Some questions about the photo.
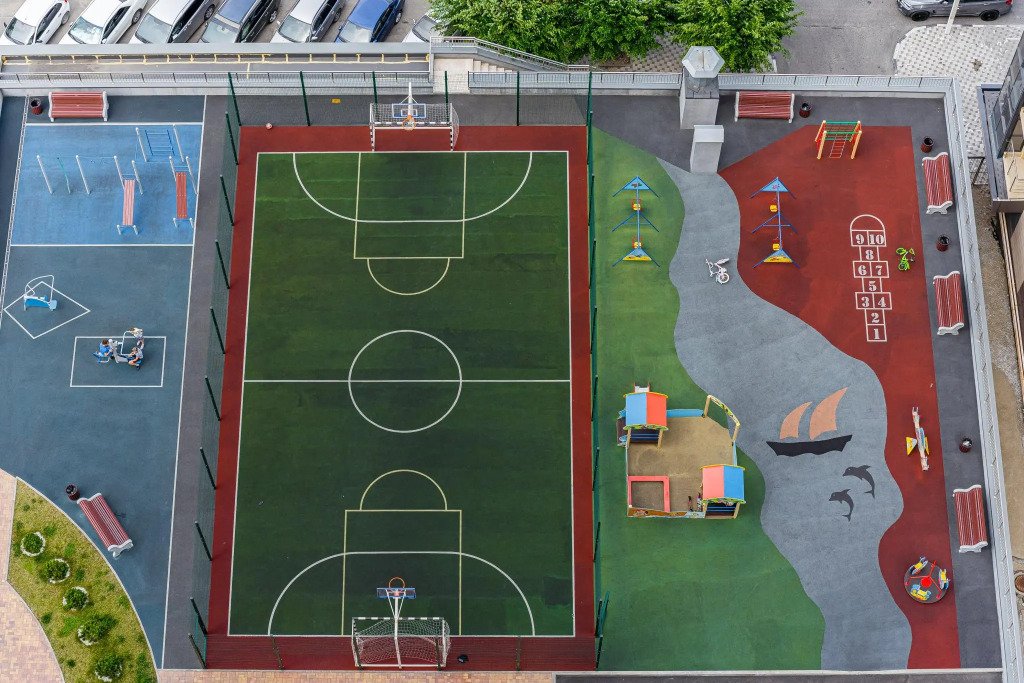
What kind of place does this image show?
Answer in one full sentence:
This image shows a sports ground.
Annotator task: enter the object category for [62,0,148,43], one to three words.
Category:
car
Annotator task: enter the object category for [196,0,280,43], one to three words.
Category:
car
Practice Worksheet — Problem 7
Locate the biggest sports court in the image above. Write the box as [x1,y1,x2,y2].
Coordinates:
[205,125,597,670]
